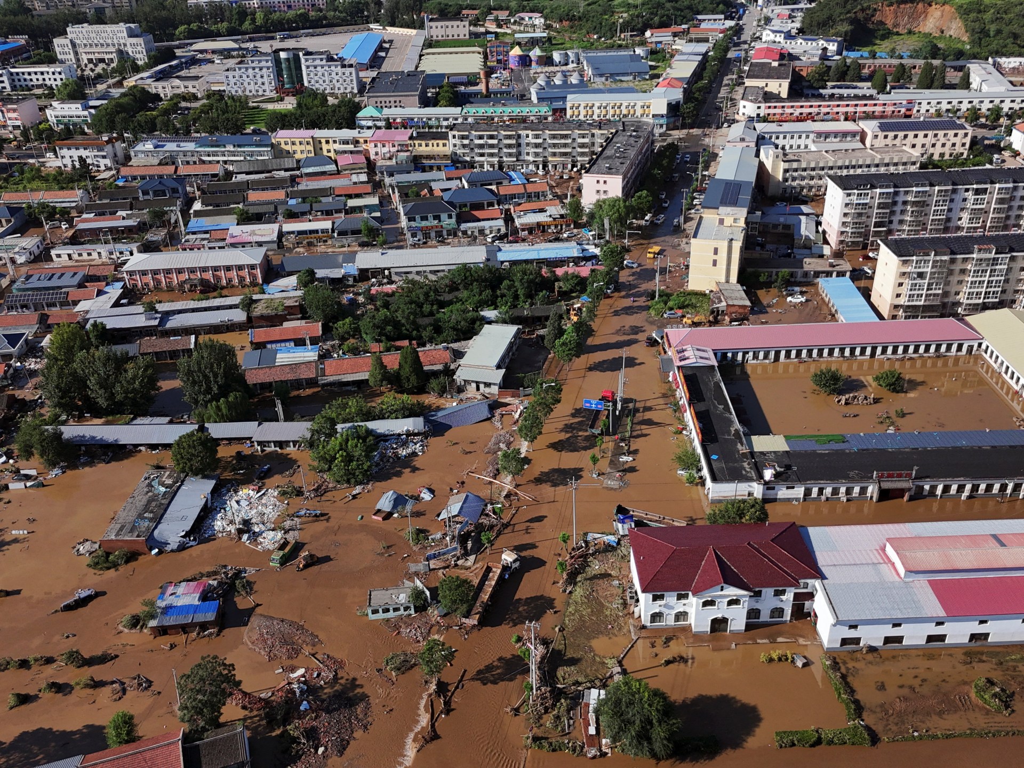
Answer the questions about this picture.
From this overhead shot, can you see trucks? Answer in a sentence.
Yes, there's a truck here.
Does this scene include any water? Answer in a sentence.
Yes, there is water in the image.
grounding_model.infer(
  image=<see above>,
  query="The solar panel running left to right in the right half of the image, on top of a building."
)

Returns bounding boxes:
[877,118,965,131]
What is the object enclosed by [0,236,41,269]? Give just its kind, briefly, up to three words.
house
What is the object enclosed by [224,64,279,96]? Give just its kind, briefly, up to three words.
building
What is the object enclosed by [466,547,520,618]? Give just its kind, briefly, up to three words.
truck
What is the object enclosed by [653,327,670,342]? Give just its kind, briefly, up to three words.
vehicle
